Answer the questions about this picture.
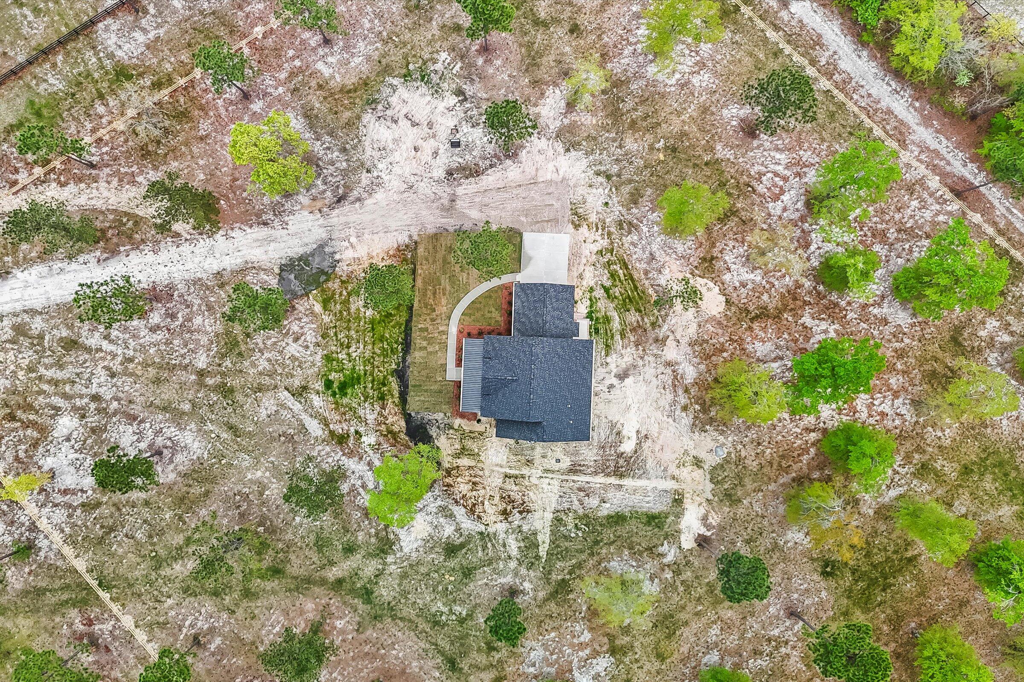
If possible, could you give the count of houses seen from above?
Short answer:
1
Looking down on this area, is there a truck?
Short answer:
No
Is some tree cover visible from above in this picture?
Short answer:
Yes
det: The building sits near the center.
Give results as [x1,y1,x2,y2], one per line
[459,282,596,442]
